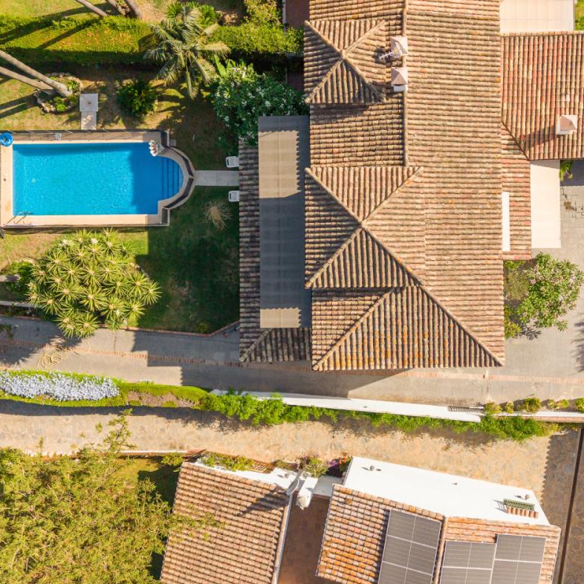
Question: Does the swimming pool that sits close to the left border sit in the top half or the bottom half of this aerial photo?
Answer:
top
